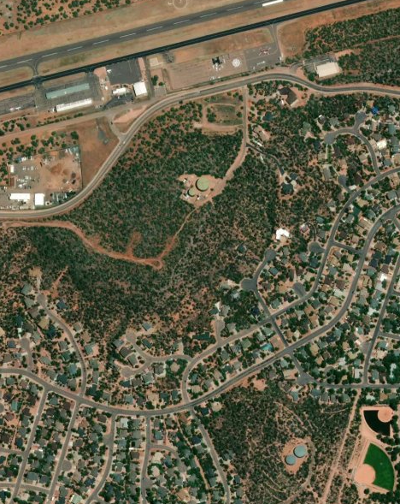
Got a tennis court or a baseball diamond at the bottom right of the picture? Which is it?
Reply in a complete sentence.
It is a baseball diamond that can be seen at the bottom right of the picture.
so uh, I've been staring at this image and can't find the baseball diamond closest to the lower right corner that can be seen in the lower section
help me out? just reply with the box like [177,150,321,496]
[354,440,397,493]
